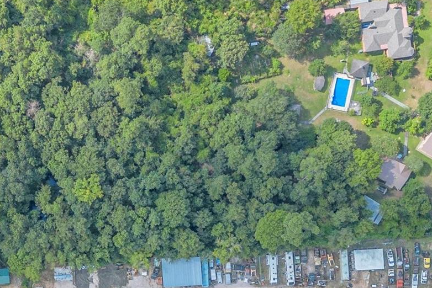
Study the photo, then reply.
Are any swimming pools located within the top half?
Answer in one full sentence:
Yes, there is a swimming pool within the top half.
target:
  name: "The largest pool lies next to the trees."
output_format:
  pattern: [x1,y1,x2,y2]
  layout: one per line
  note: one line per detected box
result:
[325,72,355,113]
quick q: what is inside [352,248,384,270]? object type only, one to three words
shed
